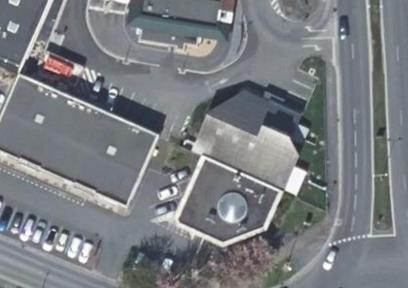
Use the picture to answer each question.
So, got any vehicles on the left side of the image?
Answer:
Yes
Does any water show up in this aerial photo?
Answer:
No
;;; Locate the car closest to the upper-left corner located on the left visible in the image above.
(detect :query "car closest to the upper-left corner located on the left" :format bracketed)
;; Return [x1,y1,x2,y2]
[92,76,105,98]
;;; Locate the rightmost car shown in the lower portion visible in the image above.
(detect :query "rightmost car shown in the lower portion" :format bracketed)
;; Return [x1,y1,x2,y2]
[322,246,338,270]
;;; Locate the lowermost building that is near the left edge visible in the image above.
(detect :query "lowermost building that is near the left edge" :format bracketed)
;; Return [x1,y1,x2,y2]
[0,67,160,216]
